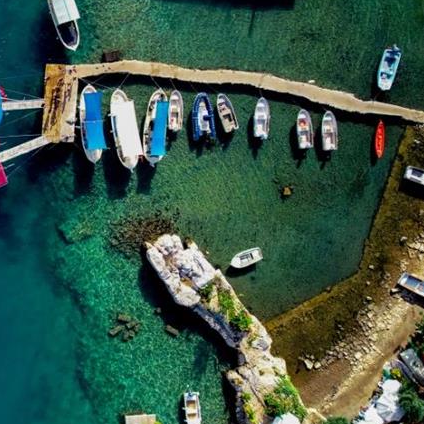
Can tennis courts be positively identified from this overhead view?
No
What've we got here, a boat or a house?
boat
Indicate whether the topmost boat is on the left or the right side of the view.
left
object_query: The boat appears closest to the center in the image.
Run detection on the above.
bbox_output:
[231,246,265,267]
